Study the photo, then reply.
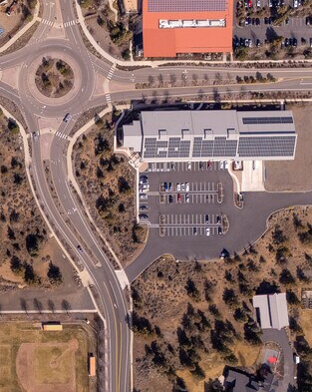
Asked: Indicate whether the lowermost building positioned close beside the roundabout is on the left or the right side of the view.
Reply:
right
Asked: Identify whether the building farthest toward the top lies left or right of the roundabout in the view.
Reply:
on its right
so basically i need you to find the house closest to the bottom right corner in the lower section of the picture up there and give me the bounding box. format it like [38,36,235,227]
[224,366,278,392]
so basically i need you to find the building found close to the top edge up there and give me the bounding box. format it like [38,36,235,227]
[138,0,235,61]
